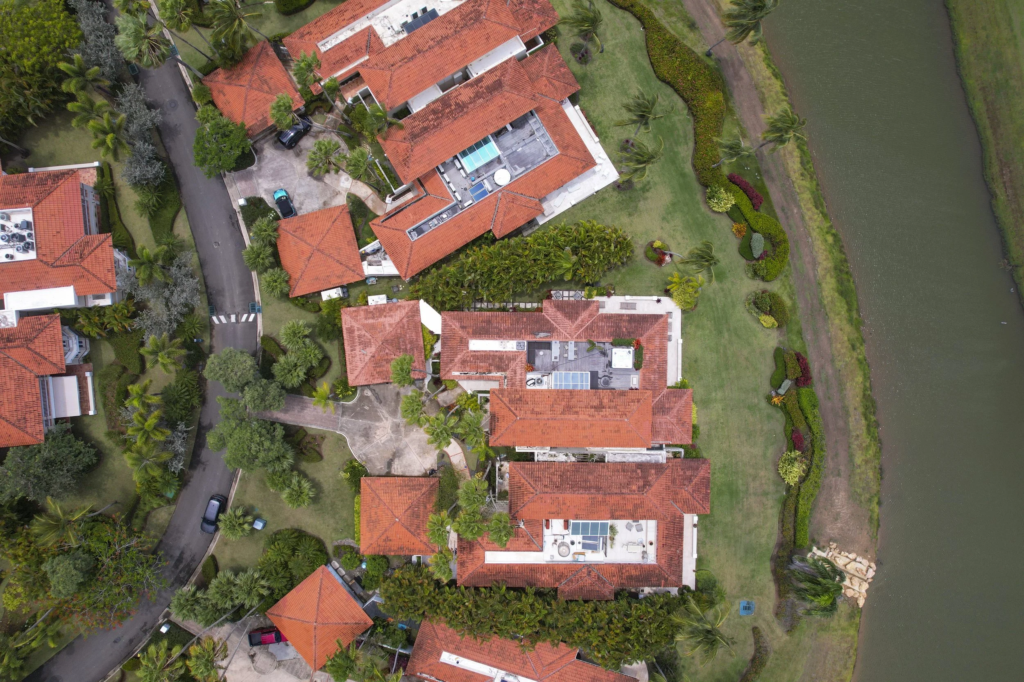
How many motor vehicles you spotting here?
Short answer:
4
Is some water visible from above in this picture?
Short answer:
Yes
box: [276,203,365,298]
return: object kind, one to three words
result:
building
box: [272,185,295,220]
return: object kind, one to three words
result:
car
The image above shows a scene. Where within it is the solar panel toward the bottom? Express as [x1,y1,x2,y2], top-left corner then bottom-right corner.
[582,536,598,551]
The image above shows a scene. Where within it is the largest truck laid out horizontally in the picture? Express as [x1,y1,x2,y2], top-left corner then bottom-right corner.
[246,630,292,651]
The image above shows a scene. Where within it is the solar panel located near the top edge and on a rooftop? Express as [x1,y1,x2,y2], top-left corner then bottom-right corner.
[404,8,439,33]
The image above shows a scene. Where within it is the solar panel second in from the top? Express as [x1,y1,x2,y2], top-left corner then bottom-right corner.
[469,181,489,202]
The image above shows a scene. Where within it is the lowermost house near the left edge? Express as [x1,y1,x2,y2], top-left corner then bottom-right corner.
[0,309,102,448]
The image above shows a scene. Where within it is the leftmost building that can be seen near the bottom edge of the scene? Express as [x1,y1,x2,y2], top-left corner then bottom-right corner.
[265,565,374,672]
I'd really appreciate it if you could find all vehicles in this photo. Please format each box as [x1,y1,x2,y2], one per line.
[272,113,313,150]
[272,185,295,220]
[197,494,224,537]
[246,630,292,651]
